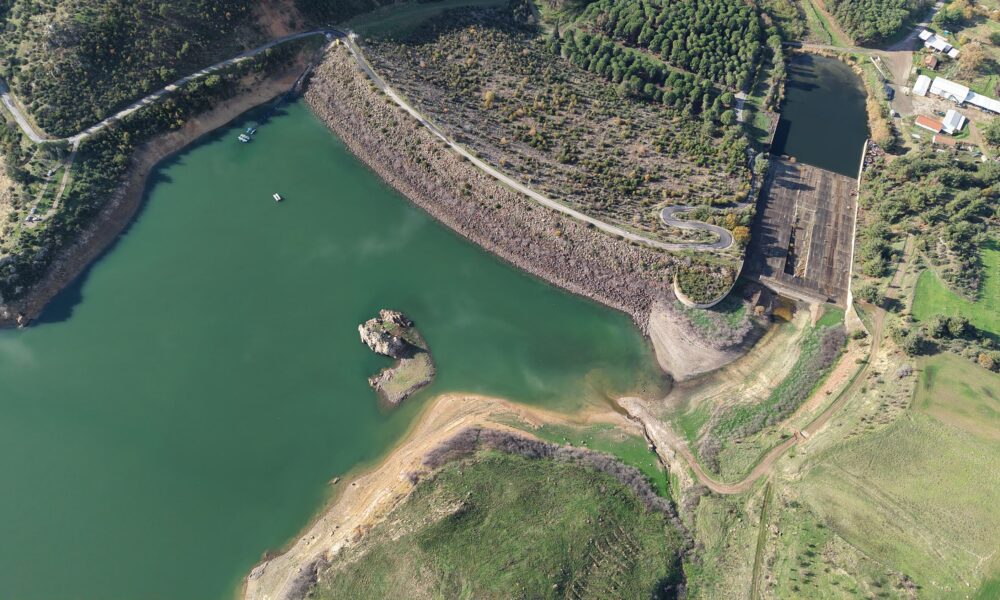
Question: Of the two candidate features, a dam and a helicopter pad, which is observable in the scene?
dam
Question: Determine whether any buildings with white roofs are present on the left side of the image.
No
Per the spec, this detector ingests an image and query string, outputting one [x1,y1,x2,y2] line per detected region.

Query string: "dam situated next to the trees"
[297,26,745,344]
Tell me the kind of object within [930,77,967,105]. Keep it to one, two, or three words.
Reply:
barn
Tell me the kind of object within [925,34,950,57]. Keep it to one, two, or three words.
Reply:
house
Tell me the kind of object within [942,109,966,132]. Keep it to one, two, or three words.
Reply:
building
